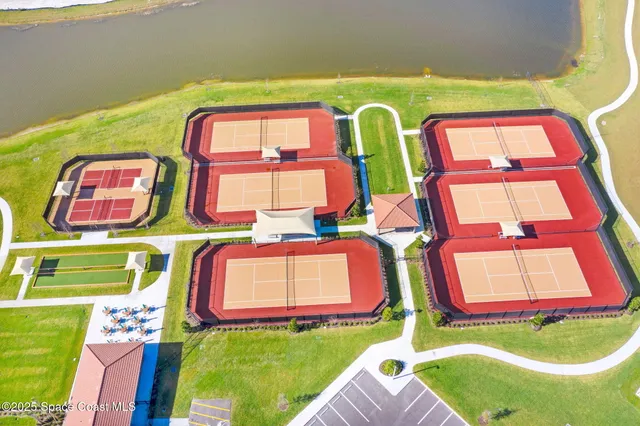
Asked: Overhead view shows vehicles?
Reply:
No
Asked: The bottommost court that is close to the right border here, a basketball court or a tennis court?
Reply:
tennis court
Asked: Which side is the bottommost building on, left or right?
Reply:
left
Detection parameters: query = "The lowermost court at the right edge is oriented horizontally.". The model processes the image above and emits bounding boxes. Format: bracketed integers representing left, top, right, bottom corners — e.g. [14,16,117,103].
[423,232,627,321]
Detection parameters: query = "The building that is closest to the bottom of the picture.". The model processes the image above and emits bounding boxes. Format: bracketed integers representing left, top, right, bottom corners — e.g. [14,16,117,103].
[63,341,148,426]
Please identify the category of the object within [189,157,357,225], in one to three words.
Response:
tennis court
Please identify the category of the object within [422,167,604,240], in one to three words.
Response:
tennis court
